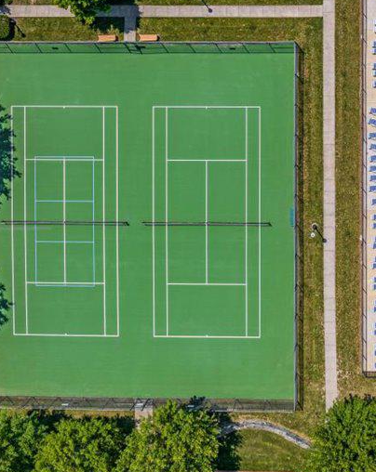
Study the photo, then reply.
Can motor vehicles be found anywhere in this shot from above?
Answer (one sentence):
No, the picture doesn't show any motor vehicle.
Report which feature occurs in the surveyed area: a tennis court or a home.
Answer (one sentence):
I can see a tennis court in this picture.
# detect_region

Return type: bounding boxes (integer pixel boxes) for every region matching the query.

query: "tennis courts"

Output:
[0,44,135,399]
[135,44,296,399]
